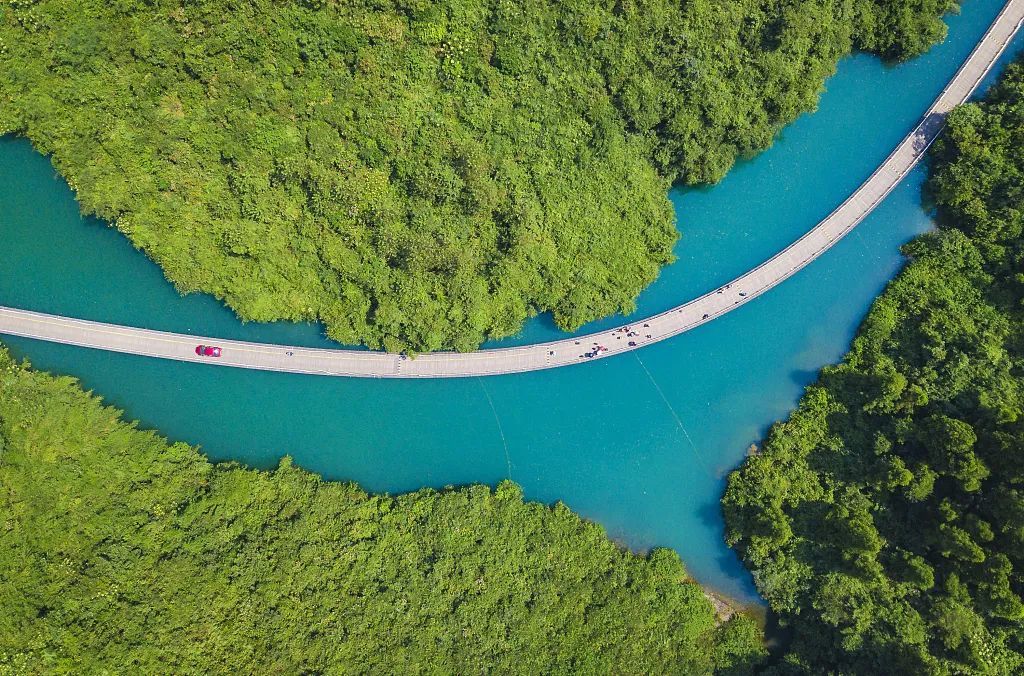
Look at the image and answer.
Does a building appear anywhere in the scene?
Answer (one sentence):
No, there is no building in the image.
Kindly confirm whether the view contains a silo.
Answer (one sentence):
No, I find no silo anywhere in the image.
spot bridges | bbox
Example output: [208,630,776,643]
[0,0,1024,378]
